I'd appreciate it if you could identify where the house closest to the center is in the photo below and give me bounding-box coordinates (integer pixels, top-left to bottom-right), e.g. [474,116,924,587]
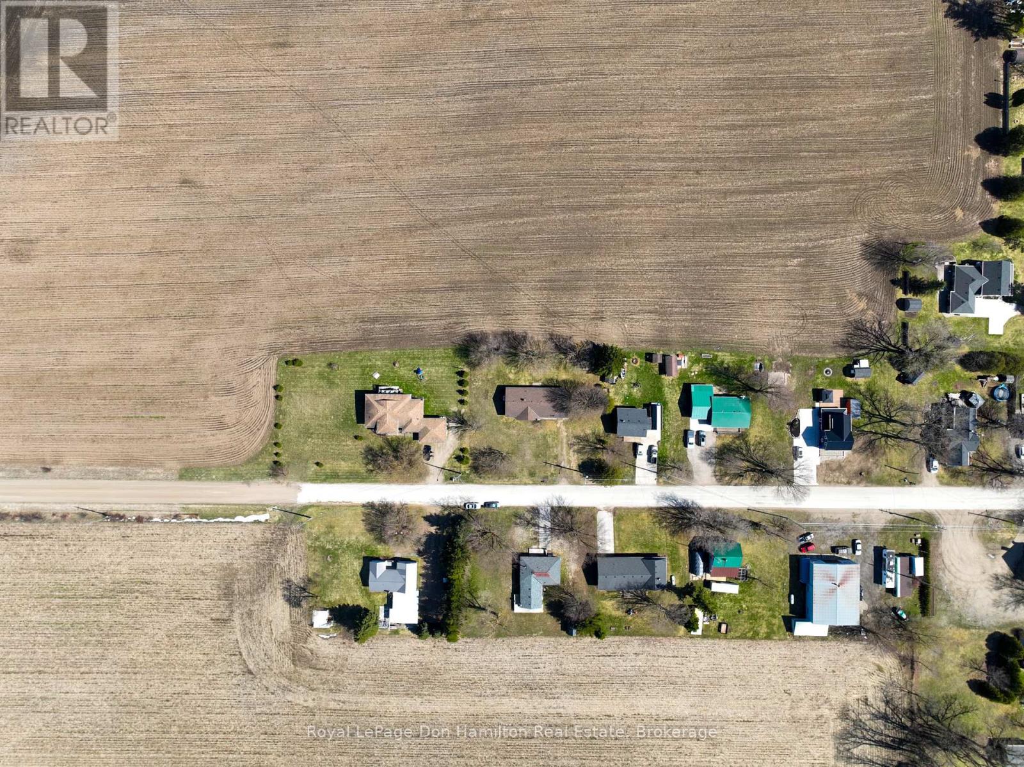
[505,386,569,420]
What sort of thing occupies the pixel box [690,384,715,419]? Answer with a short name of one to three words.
building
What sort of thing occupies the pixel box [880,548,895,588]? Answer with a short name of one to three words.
camper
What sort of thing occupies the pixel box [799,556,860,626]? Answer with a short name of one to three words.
barn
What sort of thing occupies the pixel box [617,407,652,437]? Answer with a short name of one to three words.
house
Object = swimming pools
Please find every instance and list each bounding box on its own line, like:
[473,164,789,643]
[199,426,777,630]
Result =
[992,383,1012,401]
